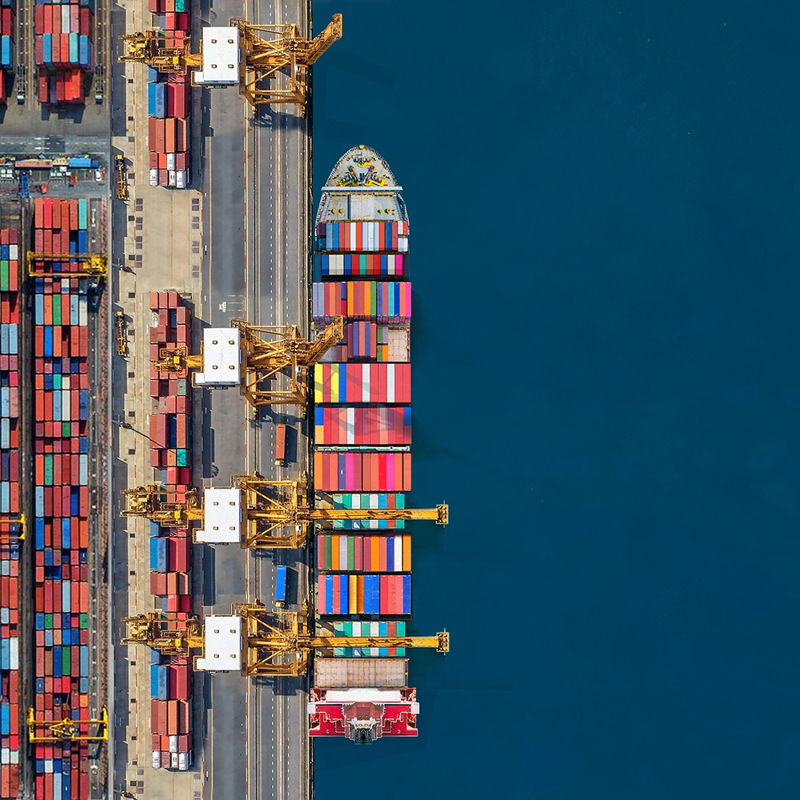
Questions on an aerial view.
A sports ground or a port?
port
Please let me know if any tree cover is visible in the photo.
No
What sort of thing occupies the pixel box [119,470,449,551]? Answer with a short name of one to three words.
container crane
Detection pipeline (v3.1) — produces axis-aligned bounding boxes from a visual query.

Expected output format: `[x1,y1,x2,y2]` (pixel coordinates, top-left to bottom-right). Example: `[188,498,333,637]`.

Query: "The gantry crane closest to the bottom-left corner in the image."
[28,708,111,742]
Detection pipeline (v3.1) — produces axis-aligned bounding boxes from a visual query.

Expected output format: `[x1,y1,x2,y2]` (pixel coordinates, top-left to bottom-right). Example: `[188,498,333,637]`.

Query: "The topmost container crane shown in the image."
[119,8,344,121]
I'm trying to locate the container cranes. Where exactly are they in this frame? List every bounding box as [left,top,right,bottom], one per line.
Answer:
[119,587,449,679]
[119,470,449,551]
[0,512,30,540]
[151,312,344,407]
[29,252,112,284]
[119,8,344,121]
[28,708,111,742]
